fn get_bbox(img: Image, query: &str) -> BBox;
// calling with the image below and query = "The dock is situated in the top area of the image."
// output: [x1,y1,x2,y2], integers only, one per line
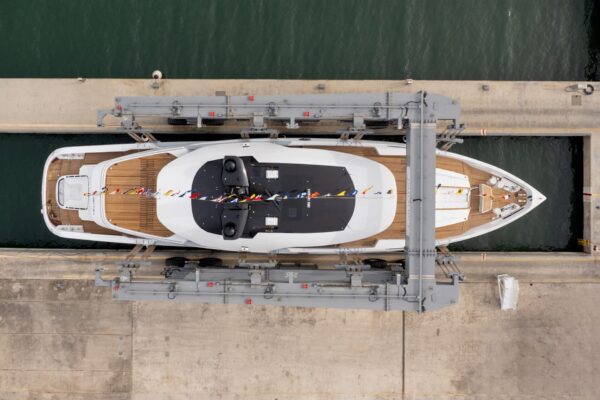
[0,78,600,135]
